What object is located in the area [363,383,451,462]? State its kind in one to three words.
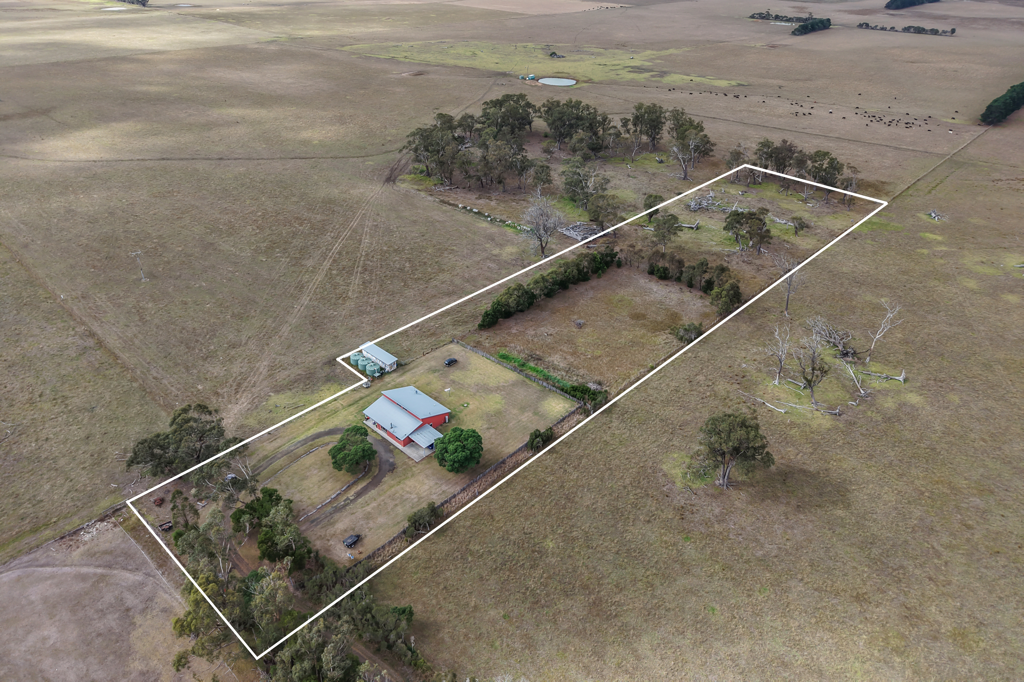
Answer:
house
